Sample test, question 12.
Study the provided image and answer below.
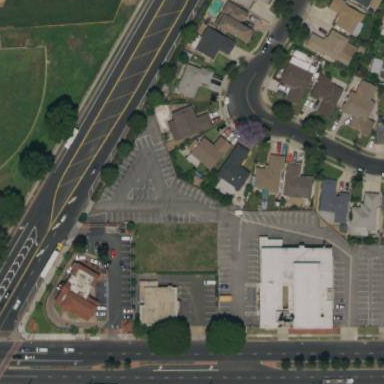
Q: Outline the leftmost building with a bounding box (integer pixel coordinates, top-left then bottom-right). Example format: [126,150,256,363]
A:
[56,262,100,321]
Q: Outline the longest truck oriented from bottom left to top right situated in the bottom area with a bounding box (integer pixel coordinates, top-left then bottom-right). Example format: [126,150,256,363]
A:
[38,244,63,280]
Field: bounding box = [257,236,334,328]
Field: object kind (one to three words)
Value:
building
